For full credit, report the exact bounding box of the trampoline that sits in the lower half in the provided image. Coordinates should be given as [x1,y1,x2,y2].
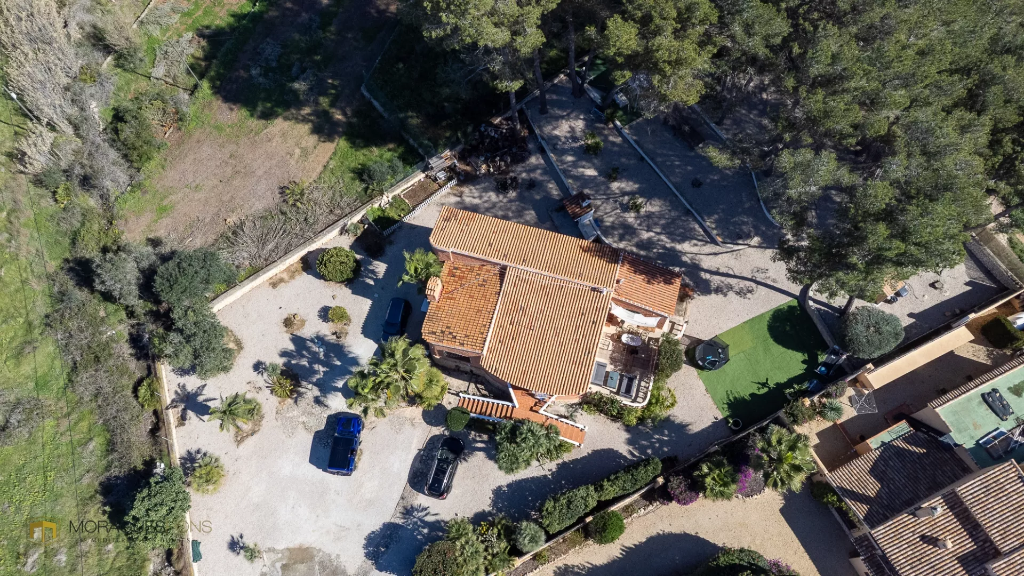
[687,333,733,379]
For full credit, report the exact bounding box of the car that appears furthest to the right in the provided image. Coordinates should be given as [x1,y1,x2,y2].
[423,436,465,506]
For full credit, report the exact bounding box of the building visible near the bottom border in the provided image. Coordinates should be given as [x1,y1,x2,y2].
[816,353,1024,576]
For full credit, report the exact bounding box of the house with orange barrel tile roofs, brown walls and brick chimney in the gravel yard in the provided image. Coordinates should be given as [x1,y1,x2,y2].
[421,207,683,411]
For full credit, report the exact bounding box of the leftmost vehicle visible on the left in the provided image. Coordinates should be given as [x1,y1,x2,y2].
[321,417,358,478]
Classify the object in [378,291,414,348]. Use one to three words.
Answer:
car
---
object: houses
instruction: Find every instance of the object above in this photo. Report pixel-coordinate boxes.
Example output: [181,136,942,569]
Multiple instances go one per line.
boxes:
[816,353,1024,576]
[421,207,683,411]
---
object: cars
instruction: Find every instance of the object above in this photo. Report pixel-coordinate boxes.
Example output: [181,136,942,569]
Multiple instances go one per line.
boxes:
[423,436,465,506]
[378,291,414,348]
[321,417,358,478]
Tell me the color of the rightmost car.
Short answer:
black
